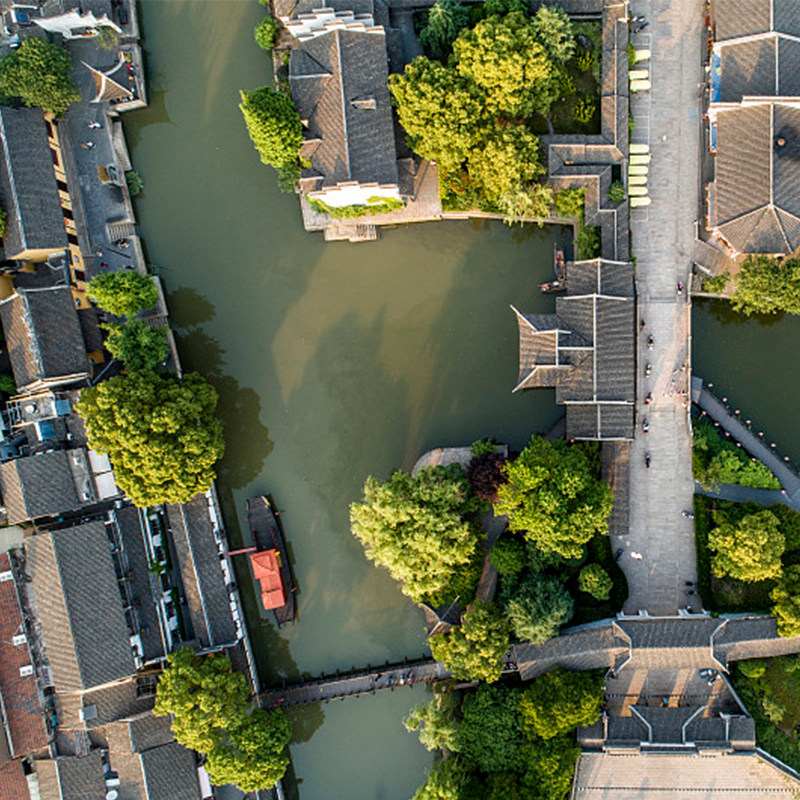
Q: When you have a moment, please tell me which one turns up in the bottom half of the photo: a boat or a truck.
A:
boat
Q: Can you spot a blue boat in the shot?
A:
No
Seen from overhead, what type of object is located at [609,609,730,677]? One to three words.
building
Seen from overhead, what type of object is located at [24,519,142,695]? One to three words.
house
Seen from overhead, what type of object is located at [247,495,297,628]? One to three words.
boat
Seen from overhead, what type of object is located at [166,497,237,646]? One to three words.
house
